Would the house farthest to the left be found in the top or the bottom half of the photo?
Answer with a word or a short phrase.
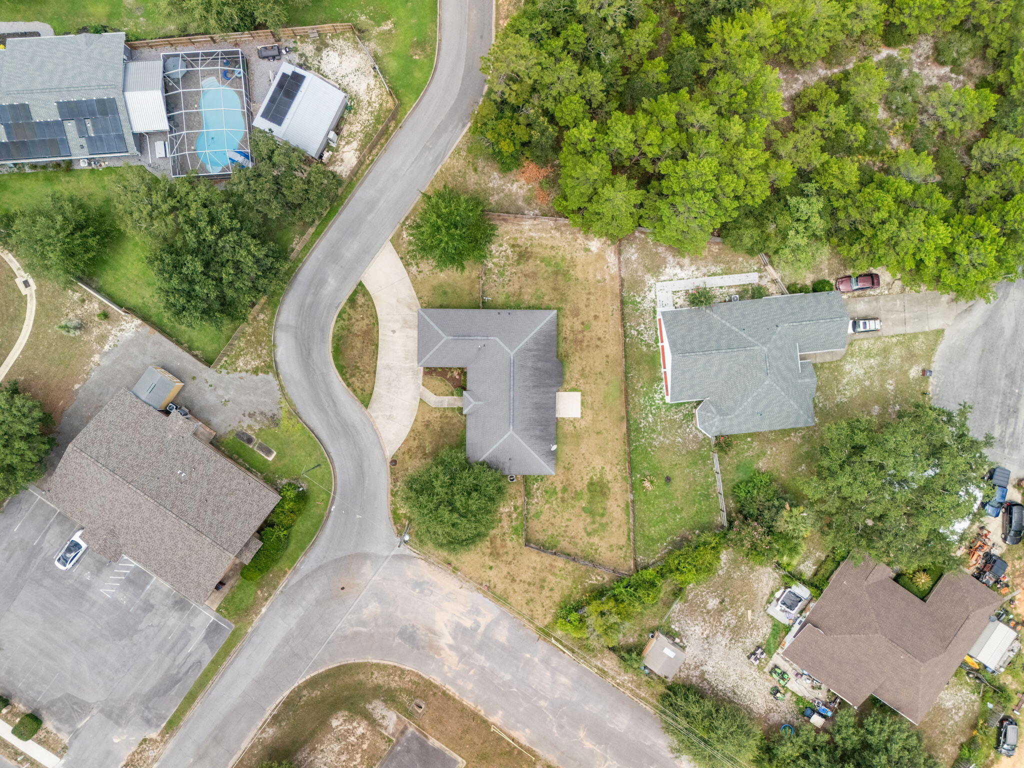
top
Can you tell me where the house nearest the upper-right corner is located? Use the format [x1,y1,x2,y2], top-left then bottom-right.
[653,292,849,438]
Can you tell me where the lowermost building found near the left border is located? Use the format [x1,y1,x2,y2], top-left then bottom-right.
[43,388,283,604]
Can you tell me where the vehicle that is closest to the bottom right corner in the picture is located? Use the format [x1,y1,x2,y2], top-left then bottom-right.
[993,714,1019,756]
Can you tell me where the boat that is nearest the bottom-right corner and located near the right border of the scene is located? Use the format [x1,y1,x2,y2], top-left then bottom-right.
[968,657,983,672]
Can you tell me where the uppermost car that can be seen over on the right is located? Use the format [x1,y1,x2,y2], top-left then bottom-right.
[834,273,880,294]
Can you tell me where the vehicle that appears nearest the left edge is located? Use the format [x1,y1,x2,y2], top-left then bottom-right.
[52,527,87,570]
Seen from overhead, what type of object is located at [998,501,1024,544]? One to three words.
car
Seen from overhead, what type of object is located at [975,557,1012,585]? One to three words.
vehicle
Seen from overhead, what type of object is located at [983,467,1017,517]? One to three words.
truck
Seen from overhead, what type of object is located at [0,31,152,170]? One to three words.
house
